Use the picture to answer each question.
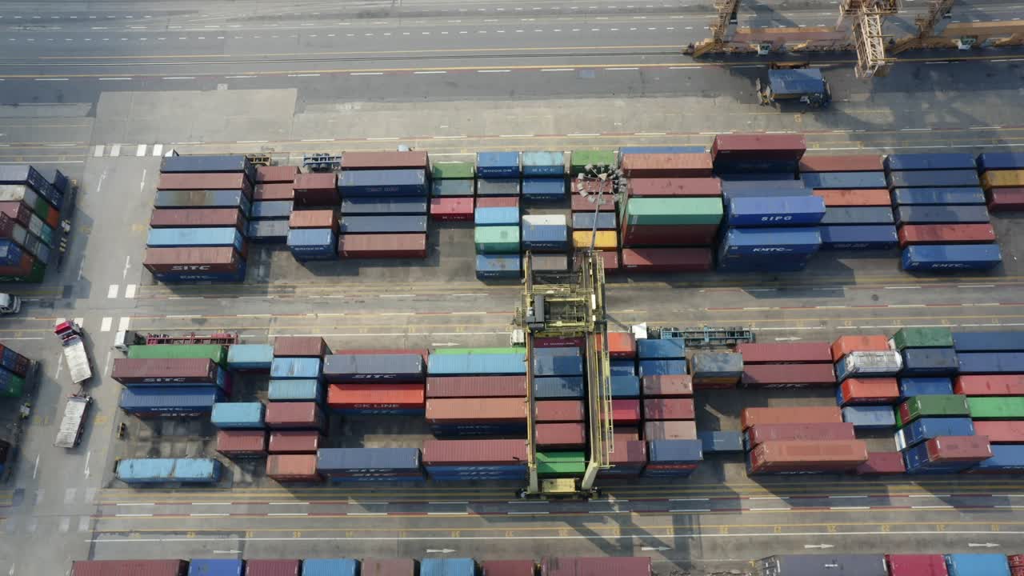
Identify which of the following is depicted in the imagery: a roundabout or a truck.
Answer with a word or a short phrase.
truck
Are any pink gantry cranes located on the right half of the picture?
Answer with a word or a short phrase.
No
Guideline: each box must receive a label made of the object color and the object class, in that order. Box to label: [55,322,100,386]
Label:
white truck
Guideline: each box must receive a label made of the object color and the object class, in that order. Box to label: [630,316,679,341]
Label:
white truck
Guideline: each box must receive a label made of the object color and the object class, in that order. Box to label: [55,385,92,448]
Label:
white trailer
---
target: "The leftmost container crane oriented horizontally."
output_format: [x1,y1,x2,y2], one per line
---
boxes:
[690,0,904,98]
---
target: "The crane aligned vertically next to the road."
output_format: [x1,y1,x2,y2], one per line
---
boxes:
[508,248,620,497]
